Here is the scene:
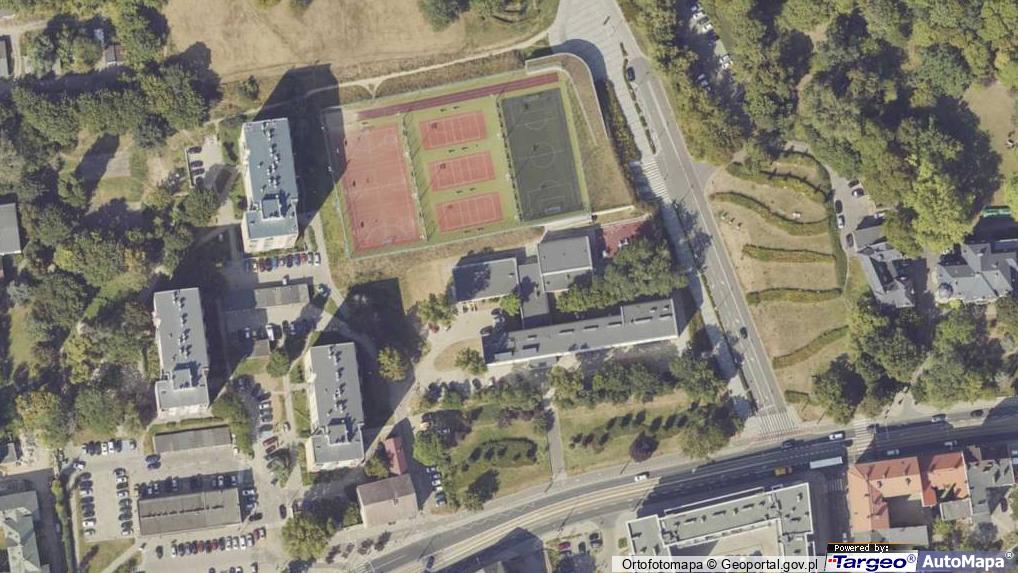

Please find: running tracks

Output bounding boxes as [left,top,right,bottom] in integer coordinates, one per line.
[358,73,560,119]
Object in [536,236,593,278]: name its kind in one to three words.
building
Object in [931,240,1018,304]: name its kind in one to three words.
house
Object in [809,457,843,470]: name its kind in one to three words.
vehicle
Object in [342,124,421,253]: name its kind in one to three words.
sports court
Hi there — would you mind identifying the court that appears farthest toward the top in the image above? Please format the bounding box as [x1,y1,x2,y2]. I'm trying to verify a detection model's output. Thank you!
[421,111,487,148]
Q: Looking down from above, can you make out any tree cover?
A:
Yes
